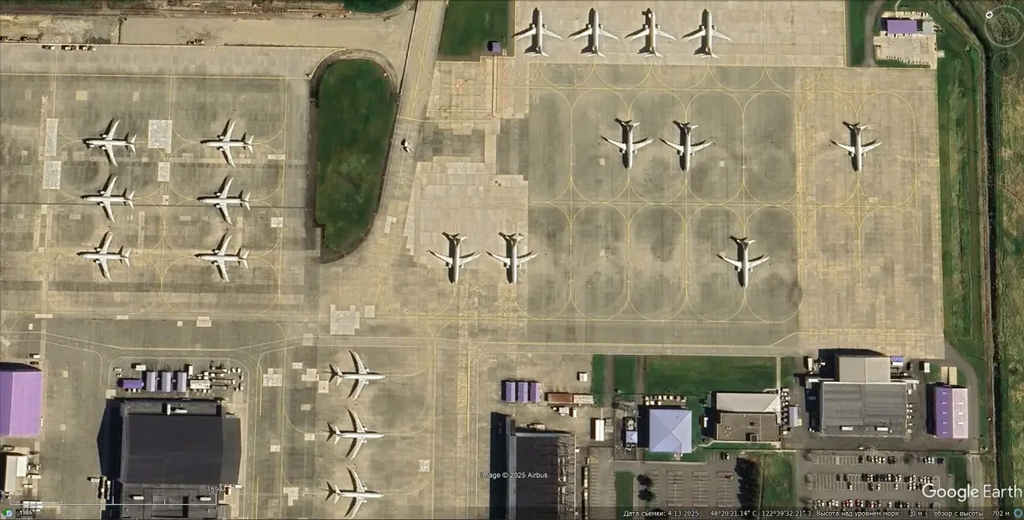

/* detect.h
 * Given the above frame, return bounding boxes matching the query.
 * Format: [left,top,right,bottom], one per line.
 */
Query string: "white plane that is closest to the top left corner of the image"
[86,120,136,167]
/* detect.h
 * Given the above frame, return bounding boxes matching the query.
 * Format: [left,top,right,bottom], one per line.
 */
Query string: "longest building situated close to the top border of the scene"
[887,19,918,33]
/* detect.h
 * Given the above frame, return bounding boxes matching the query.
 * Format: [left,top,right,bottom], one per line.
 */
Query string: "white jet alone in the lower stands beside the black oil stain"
[722,236,769,287]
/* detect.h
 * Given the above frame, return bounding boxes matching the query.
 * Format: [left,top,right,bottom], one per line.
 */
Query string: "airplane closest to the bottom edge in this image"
[332,471,383,519]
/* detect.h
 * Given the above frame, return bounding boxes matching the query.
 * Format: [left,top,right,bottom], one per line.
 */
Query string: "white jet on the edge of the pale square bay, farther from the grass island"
[491,233,538,283]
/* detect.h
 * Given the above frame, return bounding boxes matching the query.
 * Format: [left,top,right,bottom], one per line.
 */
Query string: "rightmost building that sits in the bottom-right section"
[936,388,969,439]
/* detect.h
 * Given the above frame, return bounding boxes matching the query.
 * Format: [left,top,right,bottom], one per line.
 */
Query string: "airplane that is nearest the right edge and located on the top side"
[836,121,885,172]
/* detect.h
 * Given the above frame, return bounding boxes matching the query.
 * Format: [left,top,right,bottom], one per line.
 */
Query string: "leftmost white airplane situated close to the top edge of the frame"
[517,7,565,58]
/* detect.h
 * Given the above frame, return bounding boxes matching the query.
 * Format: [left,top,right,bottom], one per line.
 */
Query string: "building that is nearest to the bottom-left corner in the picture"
[0,453,36,492]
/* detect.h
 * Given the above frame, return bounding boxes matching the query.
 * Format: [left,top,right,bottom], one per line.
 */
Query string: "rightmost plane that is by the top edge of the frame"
[686,8,733,59]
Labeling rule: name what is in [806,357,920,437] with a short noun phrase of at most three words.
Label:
building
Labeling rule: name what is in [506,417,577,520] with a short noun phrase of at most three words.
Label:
hangar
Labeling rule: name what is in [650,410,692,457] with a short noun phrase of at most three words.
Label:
building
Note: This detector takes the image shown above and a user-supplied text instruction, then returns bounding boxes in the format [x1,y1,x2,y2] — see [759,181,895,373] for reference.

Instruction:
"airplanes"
[517,7,565,58]
[491,233,538,283]
[203,120,254,166]
[607,118,654,169]
[629,8,678,58]
[332,471,383,519]
[200,176,251,225]
[664,120,712,171]
[572,8,621,58]
[83,175,134,222]
[197,234,248,282]
[686,8,733,59]
[722,236,769,287]
[86,120,136,167]
[332,412,383,460]
[334,352,385,401]
[836,121,885,172]
[431,233,480,284]
[80,232,130,280]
